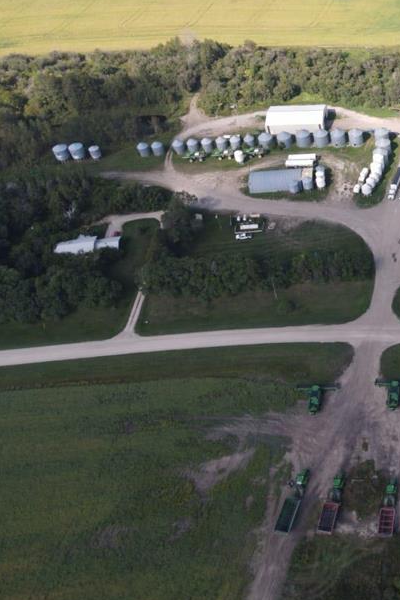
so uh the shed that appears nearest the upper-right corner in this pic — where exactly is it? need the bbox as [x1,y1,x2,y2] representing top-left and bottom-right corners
[264,104,329,137]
